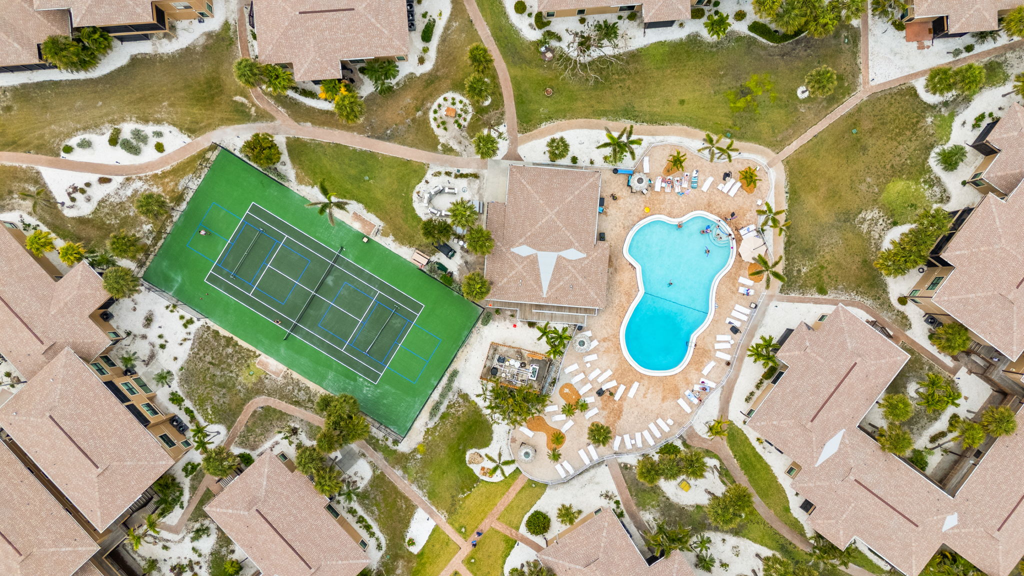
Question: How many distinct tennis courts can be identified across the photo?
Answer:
1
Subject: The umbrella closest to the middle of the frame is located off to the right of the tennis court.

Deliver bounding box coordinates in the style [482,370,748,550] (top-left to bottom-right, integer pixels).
[571,332,594,353]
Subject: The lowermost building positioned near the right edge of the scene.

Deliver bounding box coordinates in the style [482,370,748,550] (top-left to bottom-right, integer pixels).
[738,301,1024,576]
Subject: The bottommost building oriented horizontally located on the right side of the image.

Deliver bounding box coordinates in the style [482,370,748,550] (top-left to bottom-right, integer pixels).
[538,505,696,576]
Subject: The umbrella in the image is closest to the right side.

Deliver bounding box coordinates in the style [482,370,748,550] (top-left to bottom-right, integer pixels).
[739,235,769,262]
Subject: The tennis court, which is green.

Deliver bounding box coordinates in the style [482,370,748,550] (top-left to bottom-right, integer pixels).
[143,150,483,441]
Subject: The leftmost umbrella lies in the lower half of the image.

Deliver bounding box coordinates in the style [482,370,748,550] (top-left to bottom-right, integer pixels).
[515,443,538,466]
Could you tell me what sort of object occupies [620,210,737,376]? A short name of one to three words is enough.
swimming pool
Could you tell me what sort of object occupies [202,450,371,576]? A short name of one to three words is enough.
house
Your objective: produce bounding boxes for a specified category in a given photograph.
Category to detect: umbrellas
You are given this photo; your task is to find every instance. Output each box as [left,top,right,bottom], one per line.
[628,171,652,195]
[739,235,769,262]
[571,332,594,353]
[515,443,538,466]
